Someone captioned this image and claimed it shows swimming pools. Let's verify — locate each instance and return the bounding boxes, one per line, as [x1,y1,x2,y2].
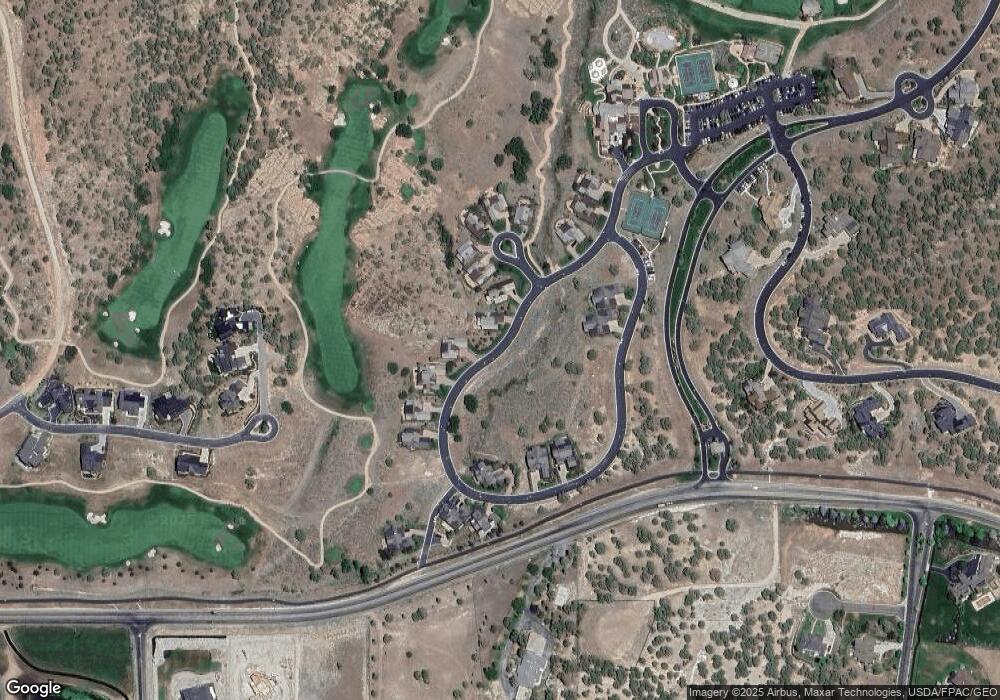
[643,26,681,51]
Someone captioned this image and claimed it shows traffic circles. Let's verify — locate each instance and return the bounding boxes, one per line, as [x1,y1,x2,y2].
[894,72,936,119]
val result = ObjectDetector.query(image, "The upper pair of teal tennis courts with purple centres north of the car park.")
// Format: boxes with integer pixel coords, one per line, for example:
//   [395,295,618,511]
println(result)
[676,51,717,95]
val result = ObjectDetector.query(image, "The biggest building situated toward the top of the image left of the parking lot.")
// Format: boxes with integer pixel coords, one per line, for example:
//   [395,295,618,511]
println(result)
[594,79,640,153]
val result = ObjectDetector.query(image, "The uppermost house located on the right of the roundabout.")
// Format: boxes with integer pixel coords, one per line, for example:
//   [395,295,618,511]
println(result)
[949,77,979,108]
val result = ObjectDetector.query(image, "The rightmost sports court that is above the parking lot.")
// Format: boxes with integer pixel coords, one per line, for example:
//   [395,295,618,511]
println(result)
[756,40,784,64]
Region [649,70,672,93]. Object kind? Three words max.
building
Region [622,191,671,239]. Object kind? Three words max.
tennis court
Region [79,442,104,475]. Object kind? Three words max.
house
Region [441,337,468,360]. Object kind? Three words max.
house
